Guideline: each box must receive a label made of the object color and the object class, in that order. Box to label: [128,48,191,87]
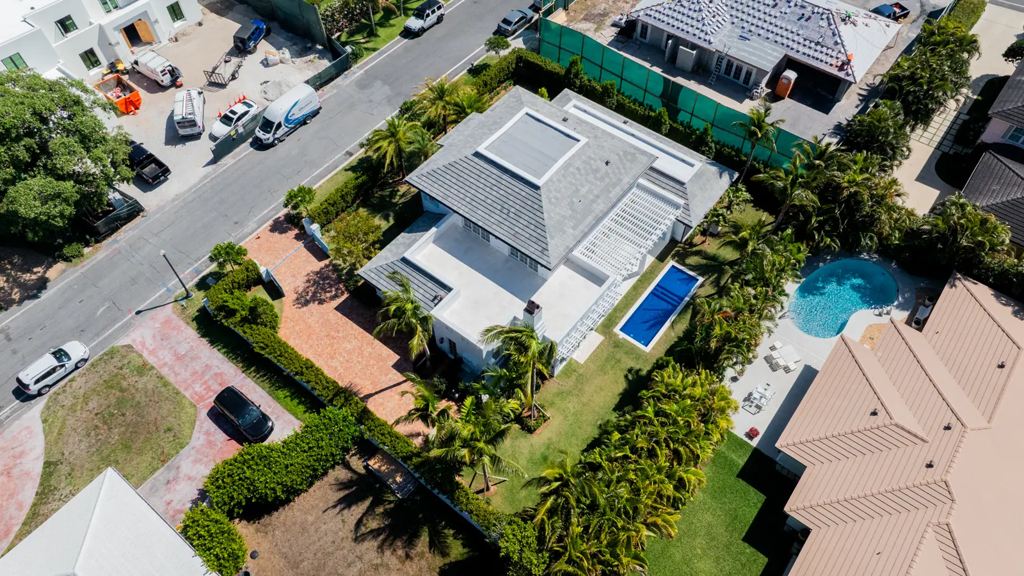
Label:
white van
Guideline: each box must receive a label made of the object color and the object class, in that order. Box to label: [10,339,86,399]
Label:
white car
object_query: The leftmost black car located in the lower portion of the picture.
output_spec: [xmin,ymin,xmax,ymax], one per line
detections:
[209,382,278,443]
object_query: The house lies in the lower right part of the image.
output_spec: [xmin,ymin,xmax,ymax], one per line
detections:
[775,268,1024,576]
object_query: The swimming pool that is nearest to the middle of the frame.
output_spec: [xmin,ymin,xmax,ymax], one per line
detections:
[620,265,699,347]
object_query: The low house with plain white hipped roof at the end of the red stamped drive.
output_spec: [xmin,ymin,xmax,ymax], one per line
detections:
[0,466,225,576]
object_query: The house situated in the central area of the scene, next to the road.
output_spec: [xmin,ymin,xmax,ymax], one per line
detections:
[356,85,738,389]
